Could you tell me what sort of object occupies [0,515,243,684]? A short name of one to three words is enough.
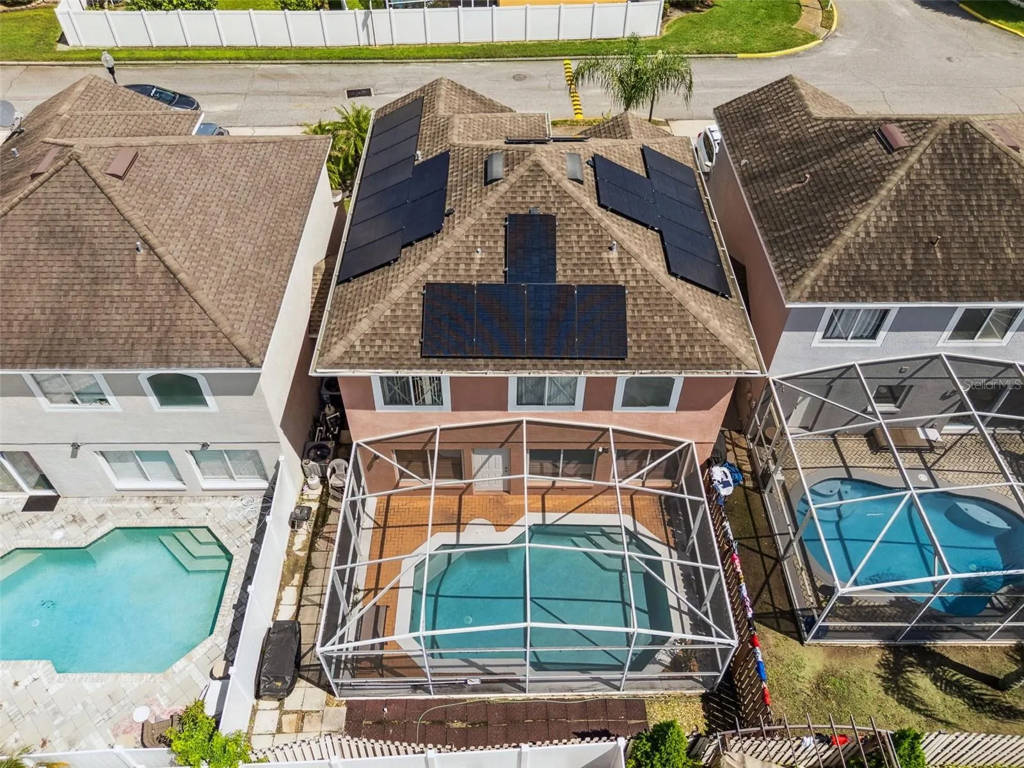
swimming pool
